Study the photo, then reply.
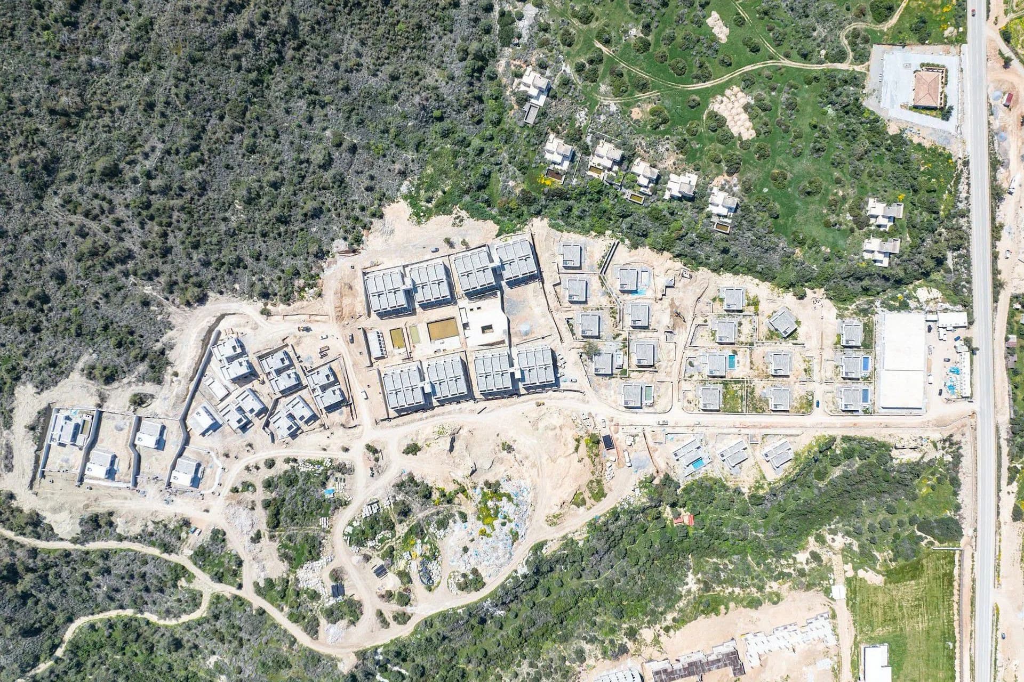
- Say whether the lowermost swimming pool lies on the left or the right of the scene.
right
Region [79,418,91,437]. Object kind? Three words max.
swimming pool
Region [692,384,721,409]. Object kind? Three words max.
house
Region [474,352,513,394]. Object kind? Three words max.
building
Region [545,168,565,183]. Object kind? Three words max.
swimming pool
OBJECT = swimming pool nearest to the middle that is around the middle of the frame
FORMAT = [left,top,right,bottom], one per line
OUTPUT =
[426,316,460,342]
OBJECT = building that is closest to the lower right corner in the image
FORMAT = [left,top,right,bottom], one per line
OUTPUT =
[858,642,892,682]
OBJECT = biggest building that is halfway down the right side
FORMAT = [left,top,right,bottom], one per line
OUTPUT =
[878,314,925,408]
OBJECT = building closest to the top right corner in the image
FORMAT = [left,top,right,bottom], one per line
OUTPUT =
[910,67,944,109]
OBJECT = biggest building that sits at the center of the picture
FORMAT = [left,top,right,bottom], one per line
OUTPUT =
[458,291,509,351]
